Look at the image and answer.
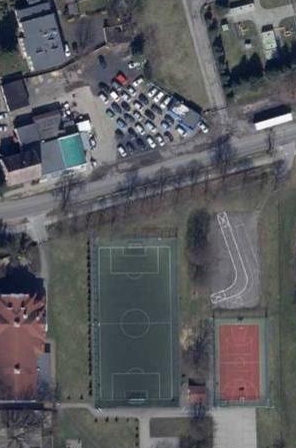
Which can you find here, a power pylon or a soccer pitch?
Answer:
soccer pitch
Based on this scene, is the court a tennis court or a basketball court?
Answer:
basketball court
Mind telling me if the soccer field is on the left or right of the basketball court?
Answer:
on the left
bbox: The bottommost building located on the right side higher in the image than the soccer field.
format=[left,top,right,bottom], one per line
[166,96,202,129]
